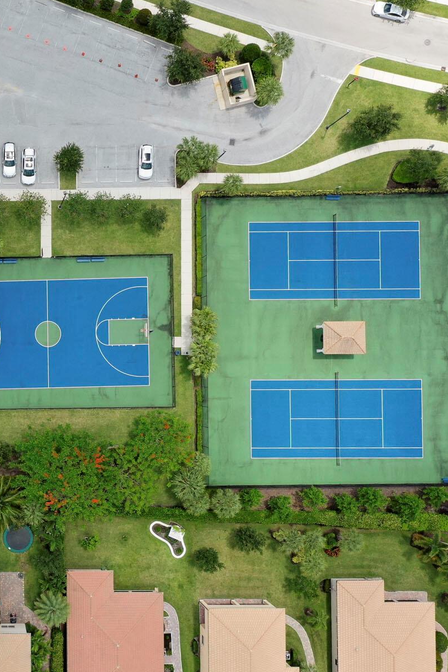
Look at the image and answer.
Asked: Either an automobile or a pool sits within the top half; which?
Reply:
automobile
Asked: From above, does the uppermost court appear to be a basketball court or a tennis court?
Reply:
tennis court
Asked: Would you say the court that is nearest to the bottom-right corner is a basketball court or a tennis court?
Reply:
tennis court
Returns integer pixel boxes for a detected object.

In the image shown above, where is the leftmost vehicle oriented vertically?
[1,140,17,177]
